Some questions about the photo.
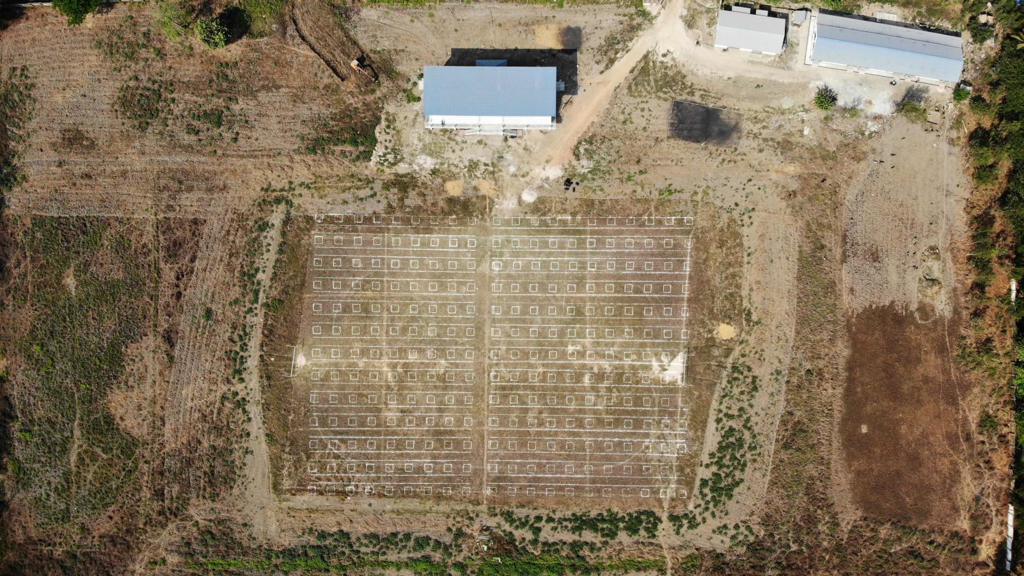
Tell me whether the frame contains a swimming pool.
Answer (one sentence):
No, the photo shows no swimming pool.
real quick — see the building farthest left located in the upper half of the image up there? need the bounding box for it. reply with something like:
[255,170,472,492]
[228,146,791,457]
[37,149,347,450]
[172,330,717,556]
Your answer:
[419,60,564,136]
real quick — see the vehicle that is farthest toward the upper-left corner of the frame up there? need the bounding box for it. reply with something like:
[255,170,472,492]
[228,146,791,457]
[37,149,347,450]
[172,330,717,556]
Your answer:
[350,59,372,80]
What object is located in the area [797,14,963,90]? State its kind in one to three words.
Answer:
building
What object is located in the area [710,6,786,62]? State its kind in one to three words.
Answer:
building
